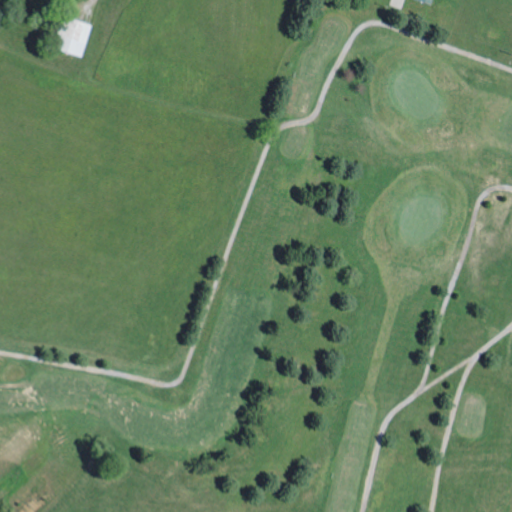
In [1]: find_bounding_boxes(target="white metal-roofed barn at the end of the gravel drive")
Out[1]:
[59,19,92,58]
